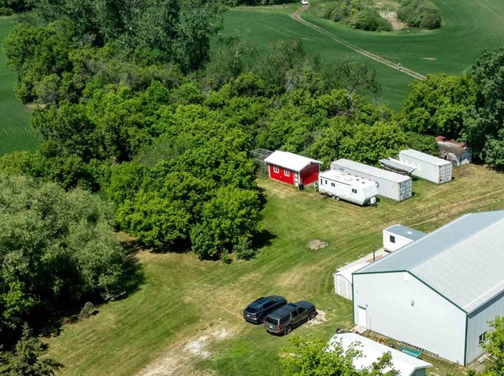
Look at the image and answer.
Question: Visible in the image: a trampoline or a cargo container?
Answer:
cargo container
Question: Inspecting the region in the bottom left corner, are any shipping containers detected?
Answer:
No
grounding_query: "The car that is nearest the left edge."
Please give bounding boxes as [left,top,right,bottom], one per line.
[244,295,292,325]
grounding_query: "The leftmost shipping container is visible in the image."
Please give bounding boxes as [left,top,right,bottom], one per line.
[332,158,412,200]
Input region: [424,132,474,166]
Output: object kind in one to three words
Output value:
shed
